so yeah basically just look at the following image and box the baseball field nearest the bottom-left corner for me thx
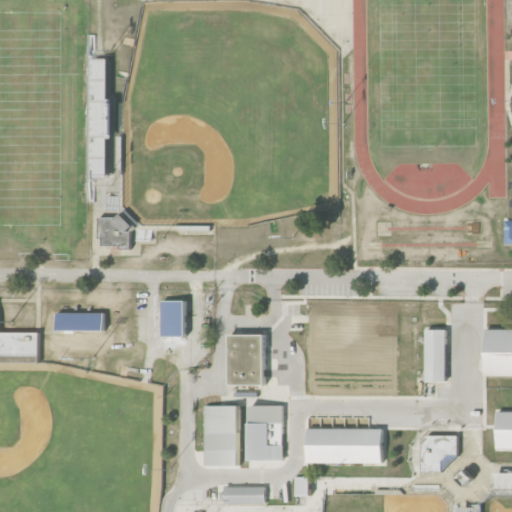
[0,363,162,512]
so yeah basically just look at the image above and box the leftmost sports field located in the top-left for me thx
[0,0,87,251]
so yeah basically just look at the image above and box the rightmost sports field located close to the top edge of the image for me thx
[367,0,488,200]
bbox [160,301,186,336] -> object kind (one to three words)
building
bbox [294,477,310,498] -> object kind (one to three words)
shed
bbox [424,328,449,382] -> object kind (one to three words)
building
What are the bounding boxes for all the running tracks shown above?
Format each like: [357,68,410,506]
[353,0,506,214]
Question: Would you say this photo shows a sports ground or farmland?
sports ground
